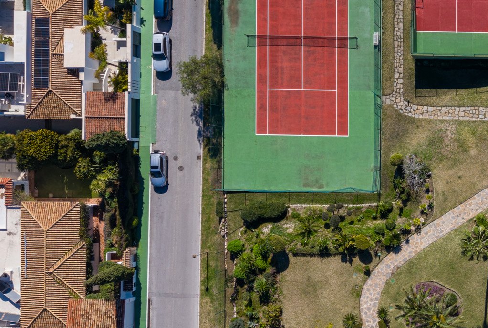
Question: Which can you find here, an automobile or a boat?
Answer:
automobile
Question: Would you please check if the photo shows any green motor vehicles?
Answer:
No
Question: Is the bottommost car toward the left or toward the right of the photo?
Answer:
left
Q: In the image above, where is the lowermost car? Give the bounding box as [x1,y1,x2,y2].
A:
[149,152,170,186]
